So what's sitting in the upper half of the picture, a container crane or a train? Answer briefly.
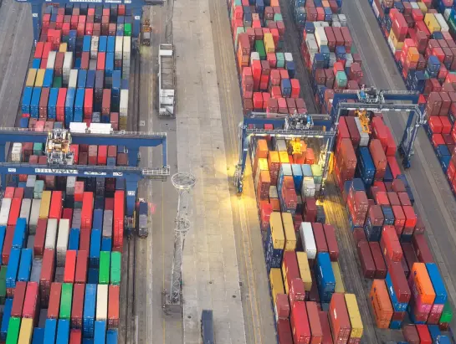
container crane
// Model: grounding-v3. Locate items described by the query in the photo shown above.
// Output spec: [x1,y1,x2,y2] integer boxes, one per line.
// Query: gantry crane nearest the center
[233,106,340,192]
